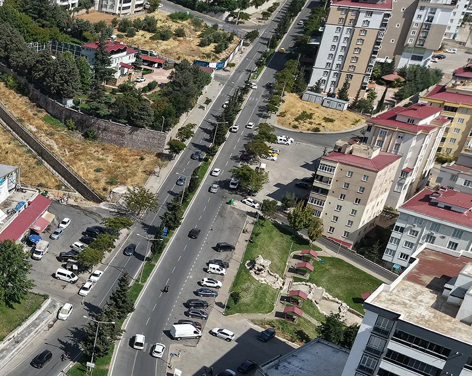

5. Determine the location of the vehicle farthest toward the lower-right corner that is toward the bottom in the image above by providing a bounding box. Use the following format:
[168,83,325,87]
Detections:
[256,325,278,344]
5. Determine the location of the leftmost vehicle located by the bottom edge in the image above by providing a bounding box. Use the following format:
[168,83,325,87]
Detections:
[30,348,54,370]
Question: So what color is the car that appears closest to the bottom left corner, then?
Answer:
black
